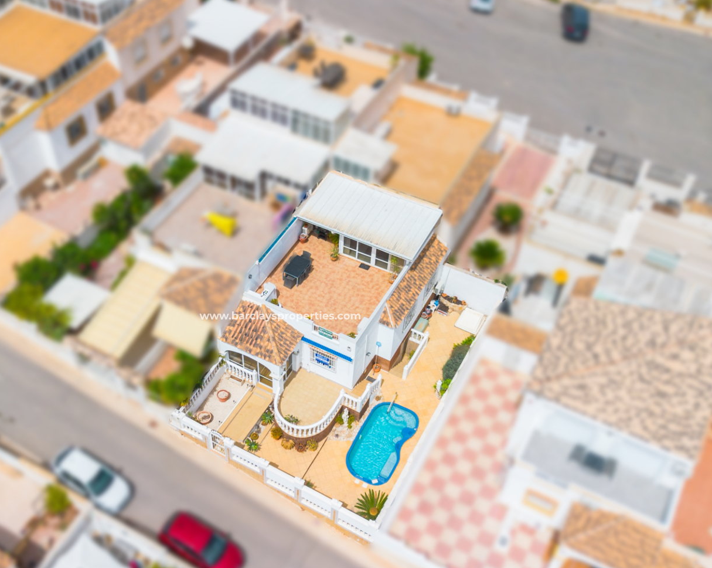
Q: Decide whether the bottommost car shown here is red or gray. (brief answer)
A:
red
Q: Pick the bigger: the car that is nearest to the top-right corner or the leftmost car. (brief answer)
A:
the leftmost car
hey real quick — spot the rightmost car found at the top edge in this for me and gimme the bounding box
[563,8,590,41]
